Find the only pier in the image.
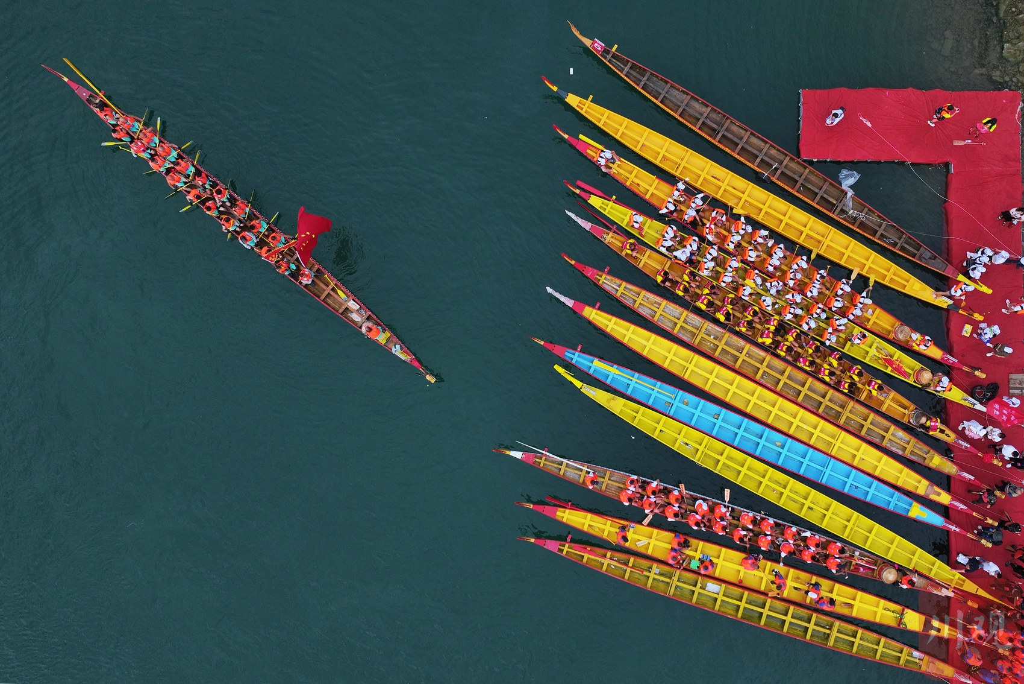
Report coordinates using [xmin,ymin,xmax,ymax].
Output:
[799,86,1024,684]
